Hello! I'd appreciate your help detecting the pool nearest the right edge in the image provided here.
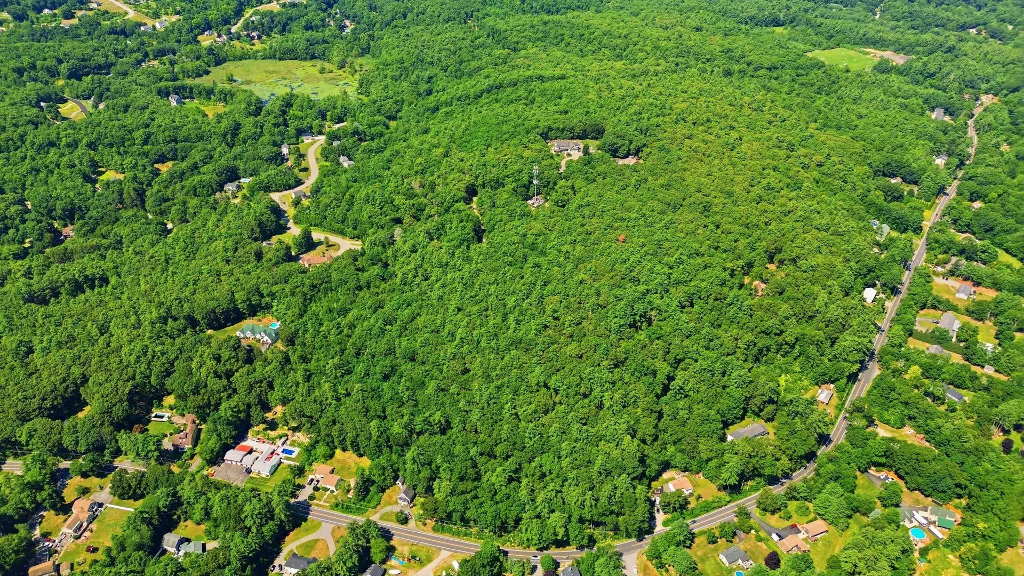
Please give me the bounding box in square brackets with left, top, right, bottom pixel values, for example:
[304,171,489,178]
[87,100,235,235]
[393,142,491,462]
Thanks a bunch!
[909,526,927,540]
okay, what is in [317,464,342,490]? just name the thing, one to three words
house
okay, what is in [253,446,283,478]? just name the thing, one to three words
building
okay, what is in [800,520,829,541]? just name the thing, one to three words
house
